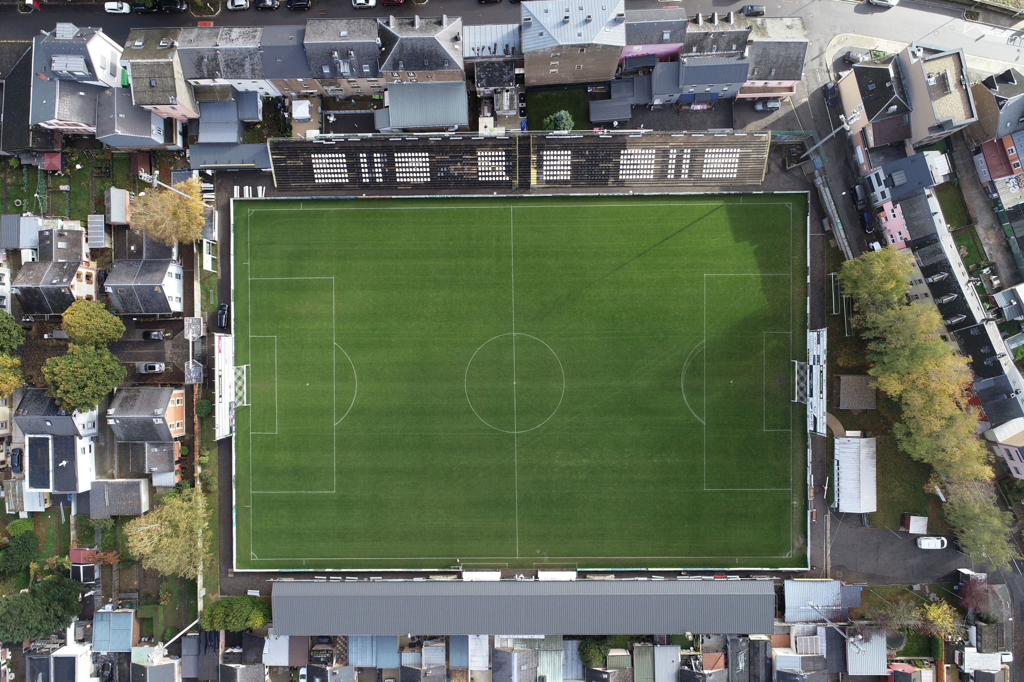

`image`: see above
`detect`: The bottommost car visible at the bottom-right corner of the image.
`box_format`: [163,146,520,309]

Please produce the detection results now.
[998,650,1016,663]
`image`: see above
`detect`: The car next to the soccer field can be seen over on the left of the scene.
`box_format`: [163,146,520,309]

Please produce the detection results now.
[217,303,230,329]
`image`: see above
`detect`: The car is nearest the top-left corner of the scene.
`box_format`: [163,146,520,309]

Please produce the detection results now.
[106,1,130,14]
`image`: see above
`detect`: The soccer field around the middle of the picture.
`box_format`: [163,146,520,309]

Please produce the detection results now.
[233,192,808,570]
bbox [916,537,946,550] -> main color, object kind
white vehicle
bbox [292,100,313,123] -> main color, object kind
white tent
